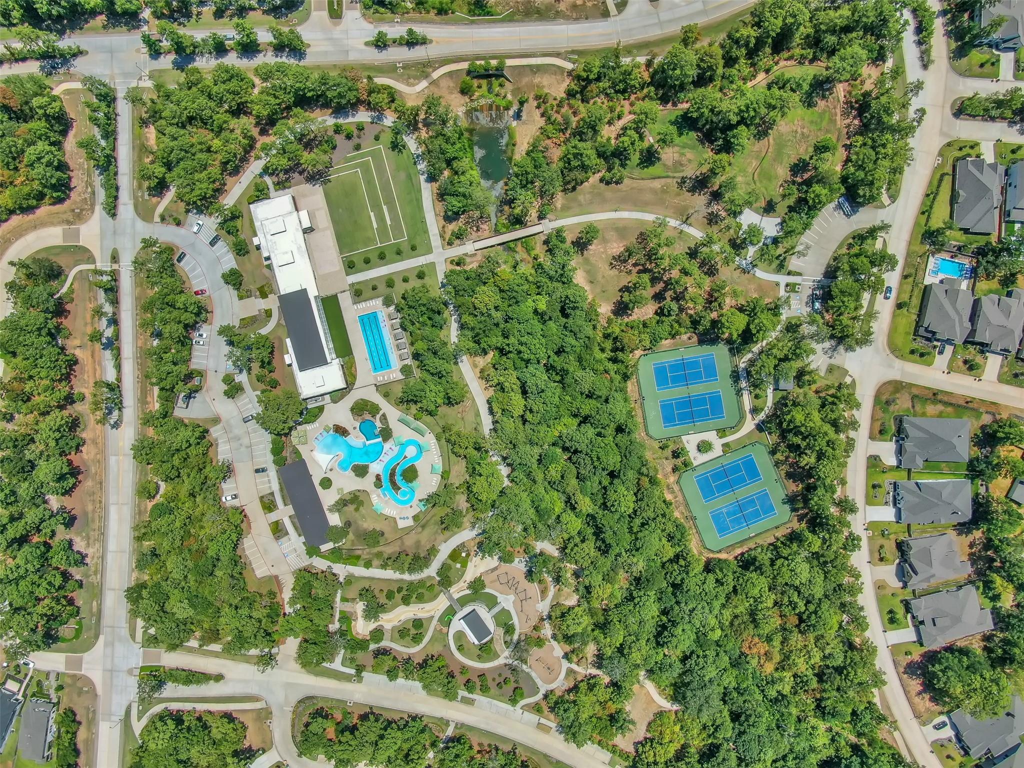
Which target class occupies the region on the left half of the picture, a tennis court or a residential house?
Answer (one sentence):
It is a residential house that can be seen on the left half of the picture.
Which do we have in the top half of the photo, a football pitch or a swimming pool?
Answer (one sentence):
It is a swimming pool that can be seen in the top half of the photo.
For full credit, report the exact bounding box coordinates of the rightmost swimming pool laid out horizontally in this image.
[928,257,971,278]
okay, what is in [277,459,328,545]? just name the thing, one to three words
building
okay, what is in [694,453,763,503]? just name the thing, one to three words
tennis court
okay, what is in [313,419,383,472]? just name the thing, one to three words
swimming pool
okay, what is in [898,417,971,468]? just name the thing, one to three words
house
